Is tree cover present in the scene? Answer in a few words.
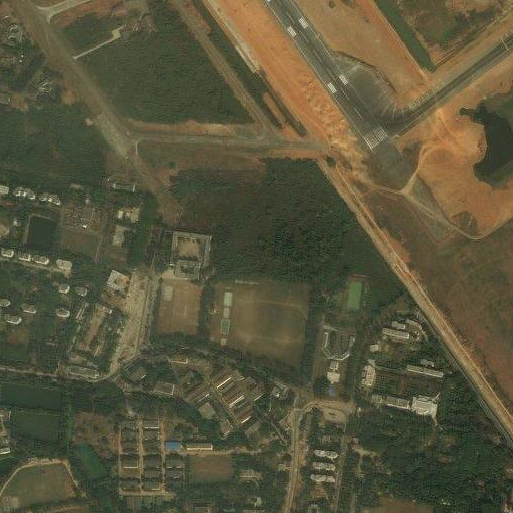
Yes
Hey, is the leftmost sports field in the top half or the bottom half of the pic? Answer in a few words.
bottom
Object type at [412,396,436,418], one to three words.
building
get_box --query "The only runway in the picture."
[261,0,391,150]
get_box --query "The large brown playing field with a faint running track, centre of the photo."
[211,280,308,365]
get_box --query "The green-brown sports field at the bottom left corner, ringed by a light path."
[0,458,79,511]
